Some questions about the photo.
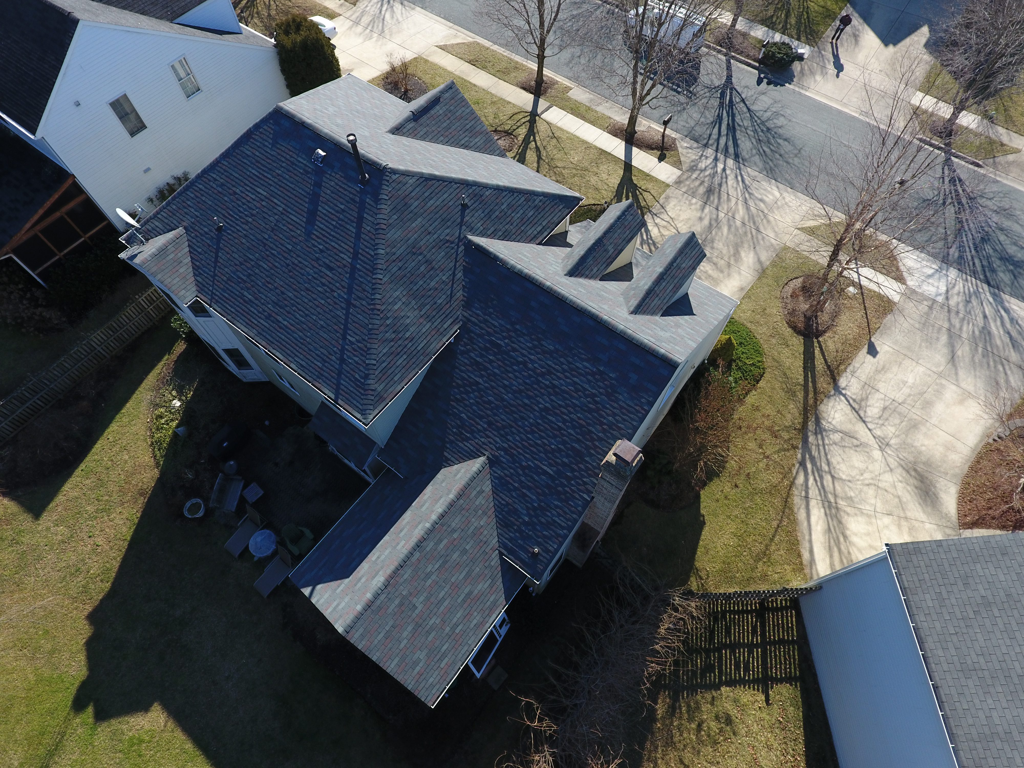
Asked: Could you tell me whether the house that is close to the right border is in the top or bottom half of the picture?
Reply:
bottom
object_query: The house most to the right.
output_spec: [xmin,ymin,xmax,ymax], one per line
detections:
[796,534,1024,768]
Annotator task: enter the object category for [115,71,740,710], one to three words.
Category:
house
